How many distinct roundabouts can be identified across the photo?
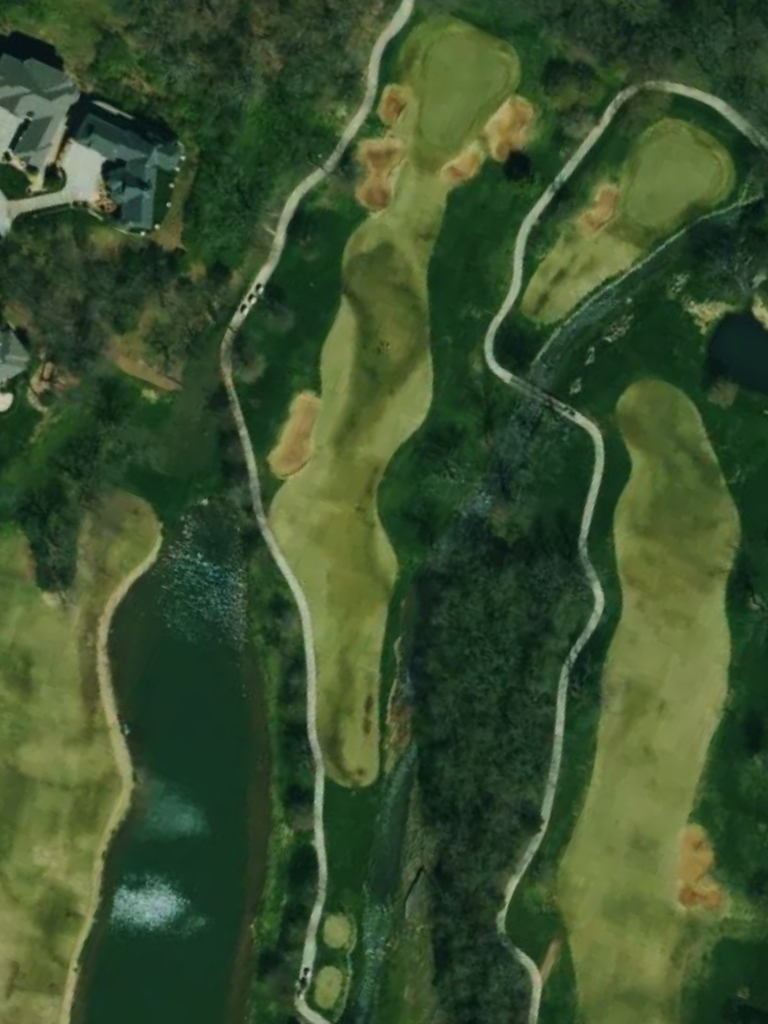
0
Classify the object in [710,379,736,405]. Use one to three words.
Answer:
shed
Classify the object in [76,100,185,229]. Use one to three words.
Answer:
house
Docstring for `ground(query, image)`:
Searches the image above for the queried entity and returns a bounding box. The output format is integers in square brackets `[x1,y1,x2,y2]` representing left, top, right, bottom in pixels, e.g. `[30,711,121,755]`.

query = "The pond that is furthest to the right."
[705,308,768,393]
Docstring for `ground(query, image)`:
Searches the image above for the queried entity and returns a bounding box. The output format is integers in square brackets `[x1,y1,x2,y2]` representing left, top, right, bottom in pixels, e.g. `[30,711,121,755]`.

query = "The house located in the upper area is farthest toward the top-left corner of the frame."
[0,48,87,169]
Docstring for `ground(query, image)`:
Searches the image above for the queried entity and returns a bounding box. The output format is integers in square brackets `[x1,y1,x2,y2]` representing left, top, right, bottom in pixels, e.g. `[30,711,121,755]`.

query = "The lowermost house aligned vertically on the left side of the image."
[0,331,29,391]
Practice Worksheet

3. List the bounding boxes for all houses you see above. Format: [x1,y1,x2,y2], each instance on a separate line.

[0,331,29,391]
[76,100,185,229]
[0,48,87,169]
